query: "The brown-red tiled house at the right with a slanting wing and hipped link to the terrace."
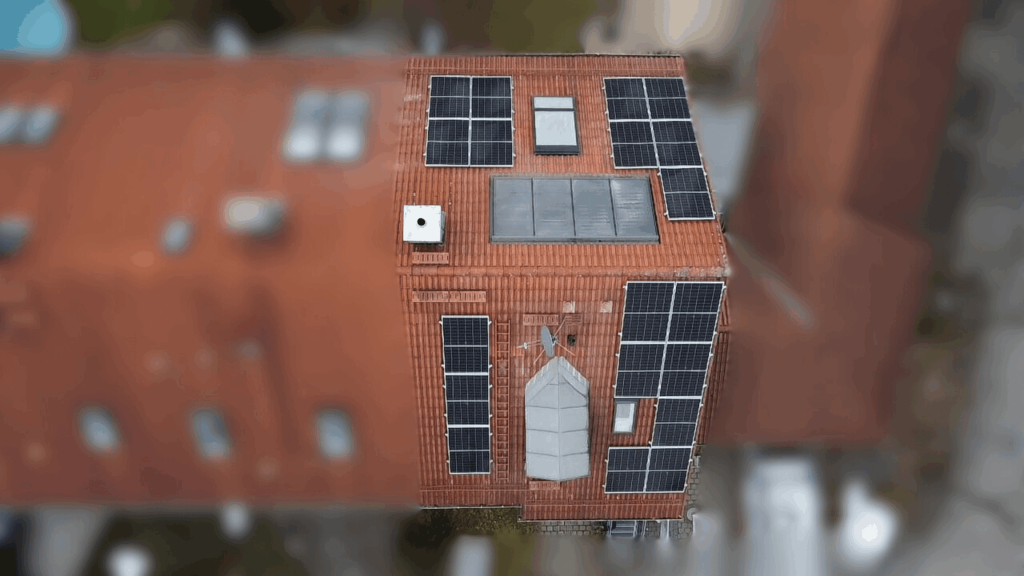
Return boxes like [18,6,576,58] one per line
[698,0,983,448]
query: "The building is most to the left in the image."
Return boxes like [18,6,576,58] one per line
[0,51,240,515]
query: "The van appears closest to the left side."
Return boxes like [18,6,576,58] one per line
[739,450,819,576]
